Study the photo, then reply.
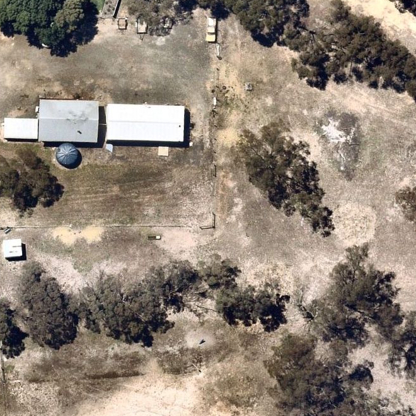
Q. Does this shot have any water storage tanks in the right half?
No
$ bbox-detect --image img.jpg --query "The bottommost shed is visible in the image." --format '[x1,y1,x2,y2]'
[2,239,21,258]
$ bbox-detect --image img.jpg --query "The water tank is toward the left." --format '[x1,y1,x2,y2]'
[56,142,80,168]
